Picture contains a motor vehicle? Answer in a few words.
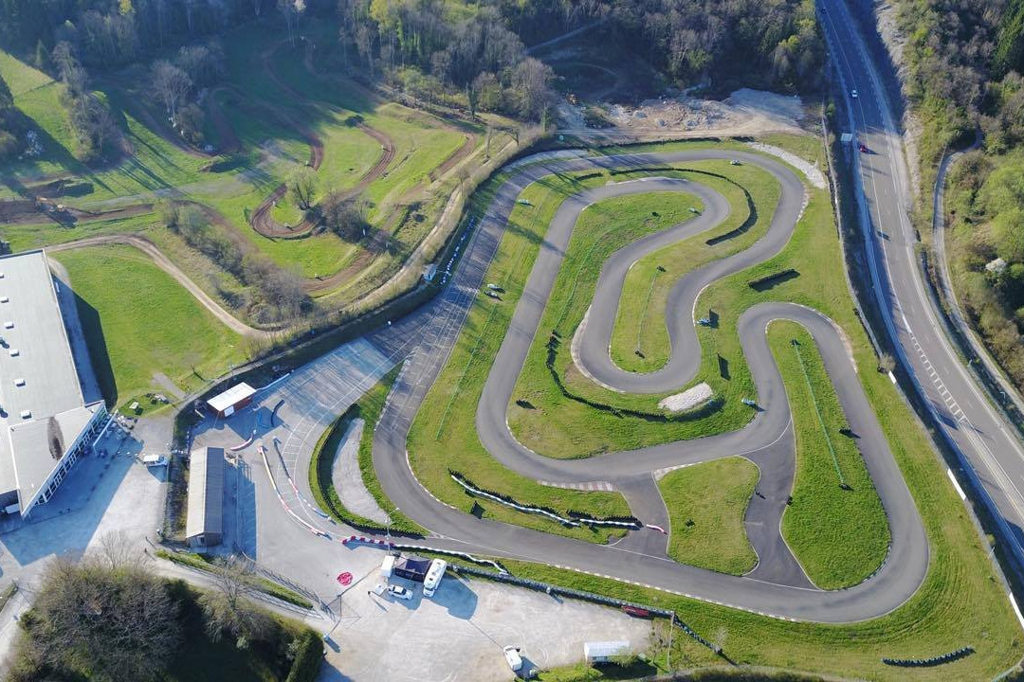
Yes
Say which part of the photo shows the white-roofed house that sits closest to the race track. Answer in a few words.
bottom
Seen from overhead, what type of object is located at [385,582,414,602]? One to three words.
car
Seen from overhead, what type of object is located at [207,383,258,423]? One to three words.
shed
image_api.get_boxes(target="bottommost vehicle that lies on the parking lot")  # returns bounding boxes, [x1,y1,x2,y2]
[499,646,524,677]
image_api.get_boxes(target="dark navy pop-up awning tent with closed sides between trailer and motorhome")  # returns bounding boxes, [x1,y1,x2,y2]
[396,556,430,583]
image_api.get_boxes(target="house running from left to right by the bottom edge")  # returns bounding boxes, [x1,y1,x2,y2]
[578,642,633,664]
